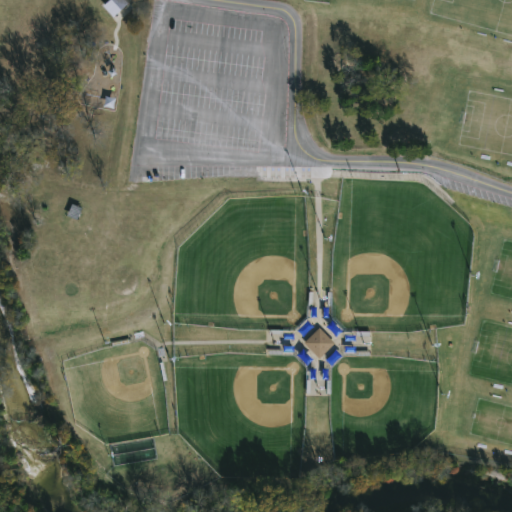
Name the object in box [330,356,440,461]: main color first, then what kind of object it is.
green baseball field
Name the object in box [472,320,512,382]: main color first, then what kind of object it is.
green soccer field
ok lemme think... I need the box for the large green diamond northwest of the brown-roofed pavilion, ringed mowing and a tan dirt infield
[174,197,309,330]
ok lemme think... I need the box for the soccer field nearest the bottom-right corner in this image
[470,398,512,444]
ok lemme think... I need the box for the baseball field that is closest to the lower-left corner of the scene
[64,340,168,444]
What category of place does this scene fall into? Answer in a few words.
sports ground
